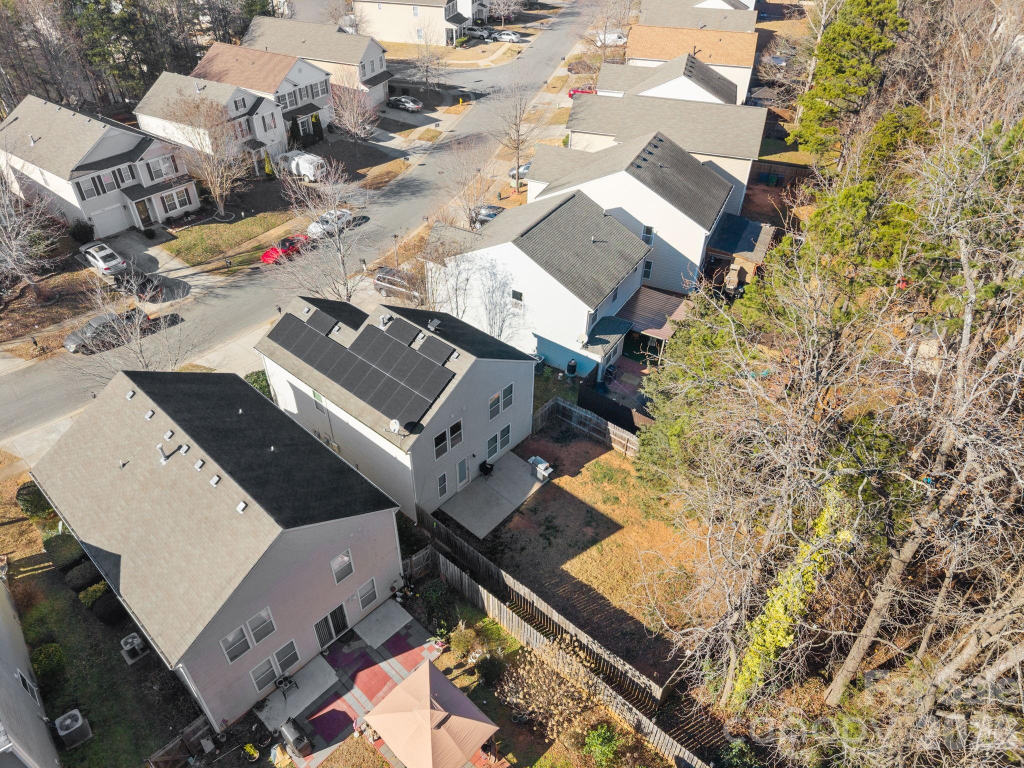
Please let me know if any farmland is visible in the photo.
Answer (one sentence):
No, there is no farmland in the image.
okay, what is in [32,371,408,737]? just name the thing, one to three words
house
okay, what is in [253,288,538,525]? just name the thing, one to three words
house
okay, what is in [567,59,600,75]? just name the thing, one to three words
car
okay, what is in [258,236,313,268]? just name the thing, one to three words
car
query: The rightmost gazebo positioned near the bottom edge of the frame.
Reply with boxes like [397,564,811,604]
[364,659,500,768]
